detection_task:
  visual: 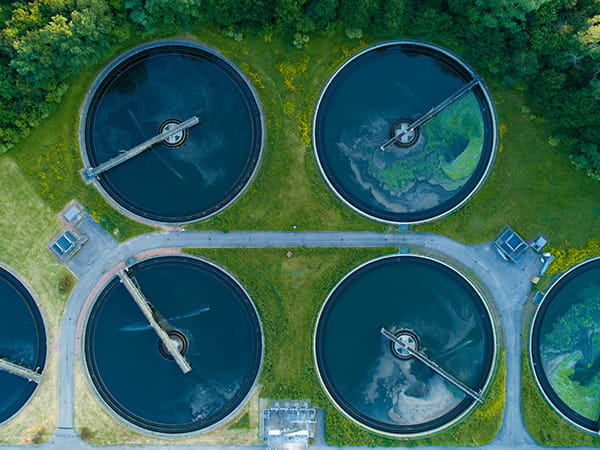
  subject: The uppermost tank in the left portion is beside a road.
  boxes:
[80,39,264,223]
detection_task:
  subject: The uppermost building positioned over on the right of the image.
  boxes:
[490,226,529,266]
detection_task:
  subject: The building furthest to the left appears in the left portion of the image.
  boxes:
[46,225,91,265]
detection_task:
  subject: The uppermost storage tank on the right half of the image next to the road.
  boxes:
[312,39,497,224]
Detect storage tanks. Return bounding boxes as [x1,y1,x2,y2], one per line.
[312,39,497,224]
[312,254,497,438]
[83,255,265,437]
[80,39,264,223]
[529,256,600,438]
[0,262,48,424]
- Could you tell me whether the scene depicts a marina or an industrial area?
industrial area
